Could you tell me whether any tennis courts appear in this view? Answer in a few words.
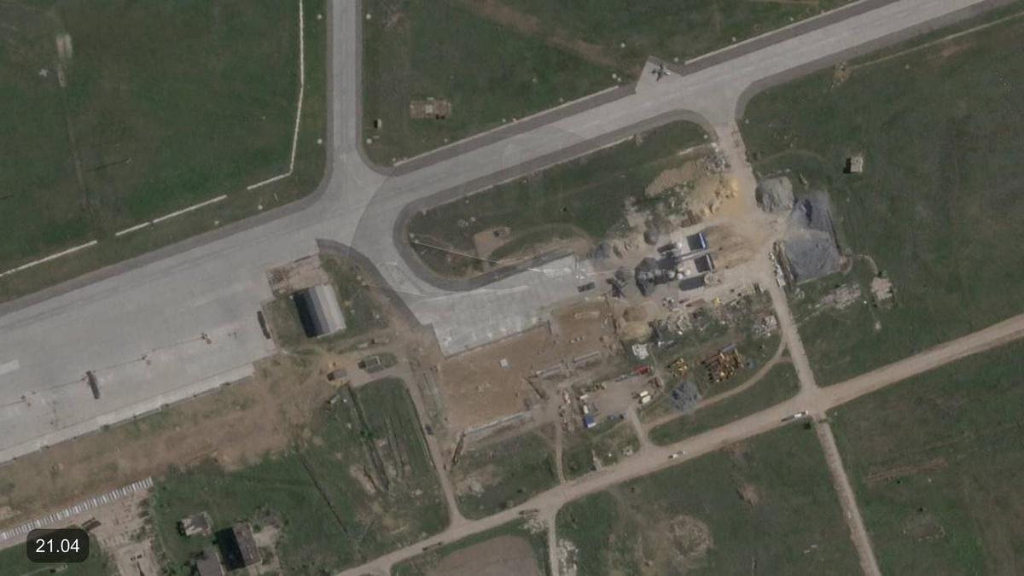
No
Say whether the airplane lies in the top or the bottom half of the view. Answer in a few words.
top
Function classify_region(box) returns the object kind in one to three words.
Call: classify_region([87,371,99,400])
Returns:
vehicle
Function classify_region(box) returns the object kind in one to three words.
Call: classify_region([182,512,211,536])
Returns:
shed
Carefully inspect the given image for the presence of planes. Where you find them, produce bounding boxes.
[650,61,671,83]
